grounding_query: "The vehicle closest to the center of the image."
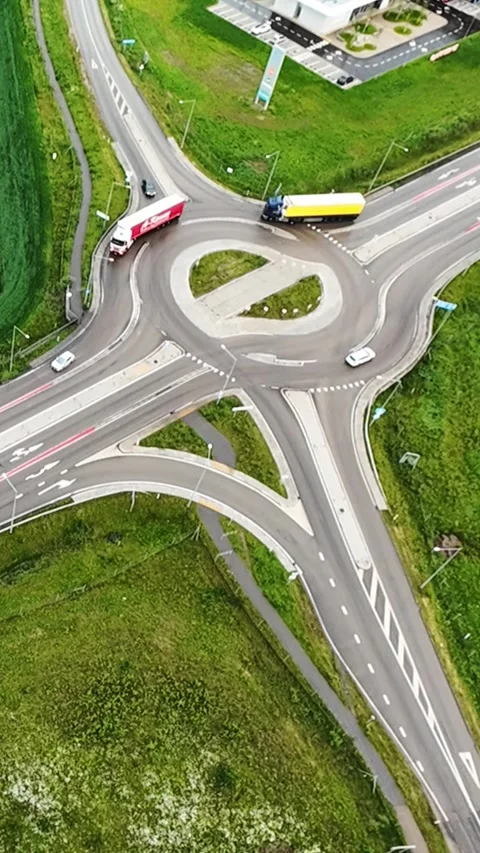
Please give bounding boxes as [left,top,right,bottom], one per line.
[344,346,378,363]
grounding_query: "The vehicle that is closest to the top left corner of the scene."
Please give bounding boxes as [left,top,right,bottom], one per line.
[141,178,157,196]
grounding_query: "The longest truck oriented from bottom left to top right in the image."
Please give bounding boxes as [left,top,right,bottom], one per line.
[108,193,188,259]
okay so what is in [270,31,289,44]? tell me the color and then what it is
white vehicle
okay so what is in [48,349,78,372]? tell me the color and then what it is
white car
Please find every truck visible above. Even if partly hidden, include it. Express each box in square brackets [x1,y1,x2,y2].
[108,193,188,259]
[258,192,368,227]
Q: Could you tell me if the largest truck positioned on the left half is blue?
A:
No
